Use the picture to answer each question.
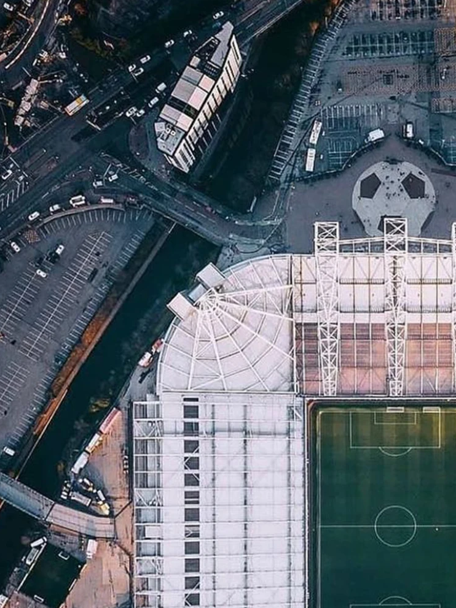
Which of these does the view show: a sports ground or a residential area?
sports ground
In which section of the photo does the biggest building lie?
top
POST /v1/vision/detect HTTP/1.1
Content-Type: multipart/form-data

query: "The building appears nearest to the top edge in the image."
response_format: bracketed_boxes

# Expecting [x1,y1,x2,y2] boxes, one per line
[154,20,242,175]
